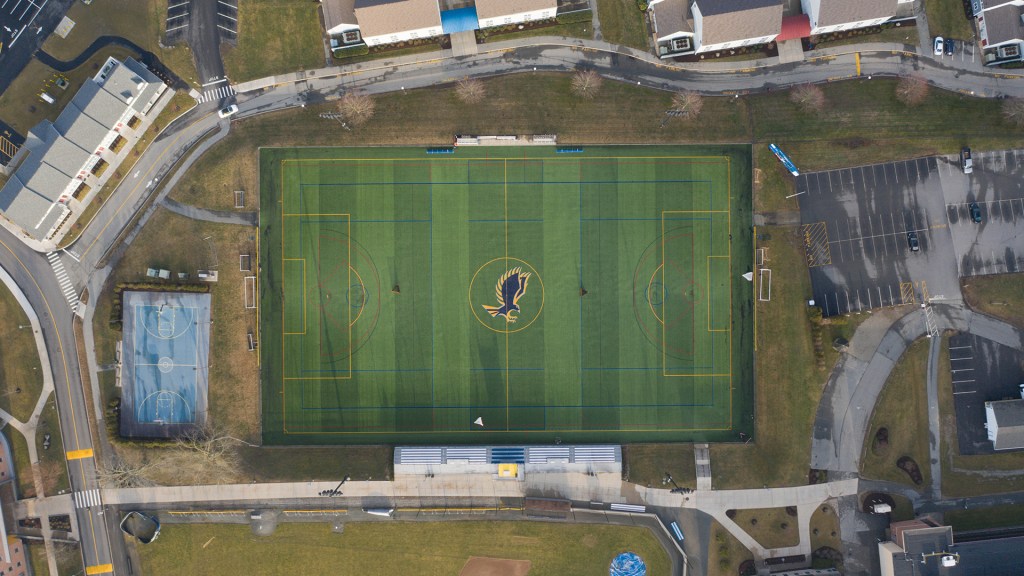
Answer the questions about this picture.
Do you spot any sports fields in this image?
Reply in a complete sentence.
Yes, the frame does contain a sports field.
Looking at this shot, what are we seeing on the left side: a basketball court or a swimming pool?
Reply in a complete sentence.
You can see a basketball court on the left side.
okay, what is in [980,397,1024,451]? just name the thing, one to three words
building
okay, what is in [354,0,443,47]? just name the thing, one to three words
house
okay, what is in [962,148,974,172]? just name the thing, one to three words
vehicle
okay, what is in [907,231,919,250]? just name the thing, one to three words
vehicle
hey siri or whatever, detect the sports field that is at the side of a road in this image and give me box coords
[259,143,754,446]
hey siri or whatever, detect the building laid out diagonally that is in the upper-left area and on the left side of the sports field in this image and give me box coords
[0,54,167,238]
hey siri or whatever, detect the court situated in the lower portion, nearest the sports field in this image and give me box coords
[120,291,211,440]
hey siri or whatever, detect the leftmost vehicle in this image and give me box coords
[217,103,239,117]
